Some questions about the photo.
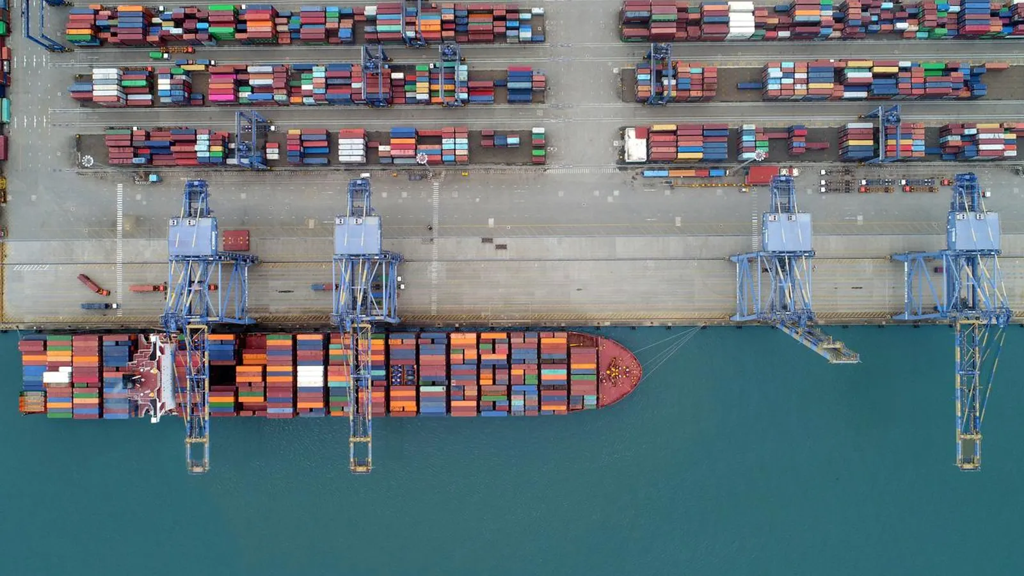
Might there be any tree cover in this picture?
No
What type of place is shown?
port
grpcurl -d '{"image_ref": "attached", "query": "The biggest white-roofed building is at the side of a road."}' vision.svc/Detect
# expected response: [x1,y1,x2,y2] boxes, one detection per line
[624,128,647,163]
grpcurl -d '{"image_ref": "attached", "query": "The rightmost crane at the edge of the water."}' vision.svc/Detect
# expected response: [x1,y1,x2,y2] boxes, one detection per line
[890,173,1014,472]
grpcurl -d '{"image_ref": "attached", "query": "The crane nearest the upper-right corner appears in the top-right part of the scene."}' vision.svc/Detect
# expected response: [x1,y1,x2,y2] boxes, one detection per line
[857,102,902,162]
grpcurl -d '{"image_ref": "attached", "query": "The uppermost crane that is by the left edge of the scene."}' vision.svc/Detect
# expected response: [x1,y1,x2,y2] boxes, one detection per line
[21,0,72,51]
